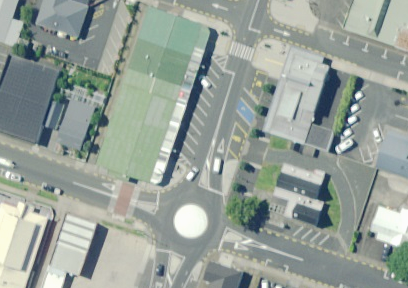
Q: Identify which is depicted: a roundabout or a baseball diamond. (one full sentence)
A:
This aerial view contains a roundabout.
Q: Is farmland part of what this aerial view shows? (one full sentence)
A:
No, there is no farmland in the image.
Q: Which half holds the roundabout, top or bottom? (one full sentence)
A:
Seen from above, the roundabout lies in the bottom half of the view.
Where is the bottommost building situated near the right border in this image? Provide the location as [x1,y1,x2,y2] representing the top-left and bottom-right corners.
[372,206,408,247]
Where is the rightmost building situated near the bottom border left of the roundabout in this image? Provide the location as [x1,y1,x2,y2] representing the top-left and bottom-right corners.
[51,215,96,276]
